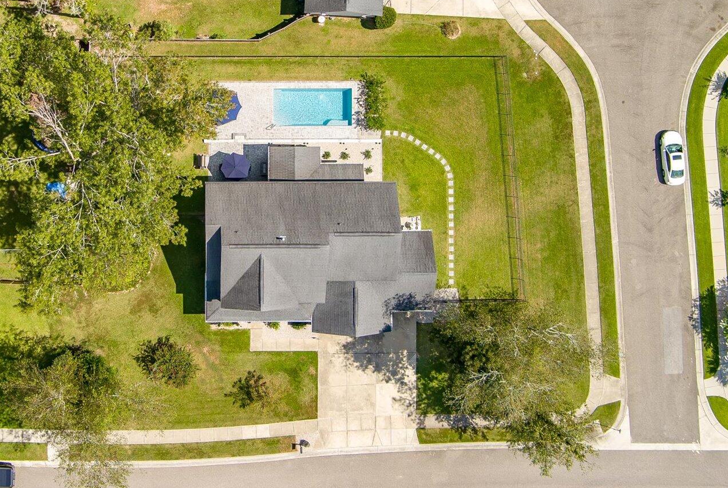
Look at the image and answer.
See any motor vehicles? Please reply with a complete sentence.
Yes, a motor vehicle is visible in the scene.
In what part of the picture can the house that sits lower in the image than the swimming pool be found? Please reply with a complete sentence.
The house that sits lower in the image than the swimming pool sits in the center section of the image.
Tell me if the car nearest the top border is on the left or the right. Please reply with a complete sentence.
The car nearest the top border appears in the right half of the scene.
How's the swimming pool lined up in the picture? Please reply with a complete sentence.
In this picture, the swimming pool is oriented from side to side.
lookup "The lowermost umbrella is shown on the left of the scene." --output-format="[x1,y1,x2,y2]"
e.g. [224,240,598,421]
[221,150,250,180]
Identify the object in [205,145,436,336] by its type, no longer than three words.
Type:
house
